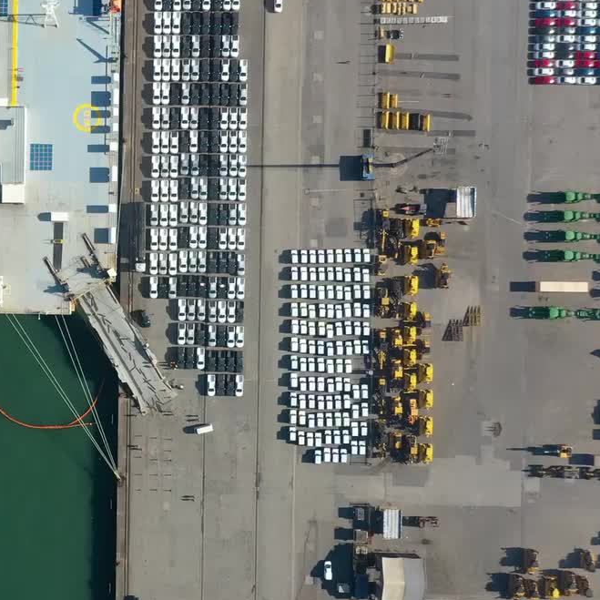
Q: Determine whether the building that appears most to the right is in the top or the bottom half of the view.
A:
bottom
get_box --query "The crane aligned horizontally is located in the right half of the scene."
[354,155,413,180]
